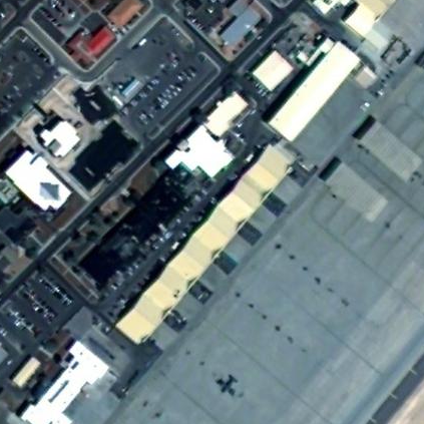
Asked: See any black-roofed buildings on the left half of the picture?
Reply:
Yes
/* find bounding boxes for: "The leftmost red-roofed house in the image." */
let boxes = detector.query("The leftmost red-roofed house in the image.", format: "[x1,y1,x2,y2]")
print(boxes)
[88,27,117,56]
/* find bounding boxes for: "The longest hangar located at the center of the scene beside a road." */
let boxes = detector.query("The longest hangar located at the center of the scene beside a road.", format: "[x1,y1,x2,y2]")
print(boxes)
[116,144,290,344]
